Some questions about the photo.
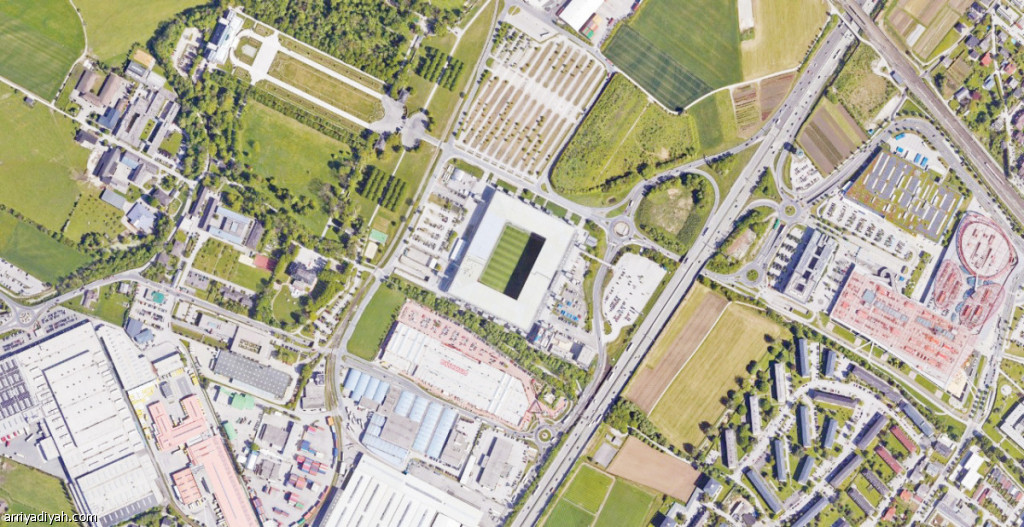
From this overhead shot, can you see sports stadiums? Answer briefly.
Yes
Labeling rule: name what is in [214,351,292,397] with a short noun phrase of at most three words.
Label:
building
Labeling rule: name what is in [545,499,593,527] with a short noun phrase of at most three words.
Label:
sports field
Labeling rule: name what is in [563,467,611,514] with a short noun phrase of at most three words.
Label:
sports field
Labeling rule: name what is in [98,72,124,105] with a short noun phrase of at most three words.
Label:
barn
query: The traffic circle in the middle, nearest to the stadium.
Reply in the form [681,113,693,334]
[607,215,635,243]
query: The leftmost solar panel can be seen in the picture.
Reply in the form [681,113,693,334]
[0,359,31,415]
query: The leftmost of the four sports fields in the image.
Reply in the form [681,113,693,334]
[479,223,545,300]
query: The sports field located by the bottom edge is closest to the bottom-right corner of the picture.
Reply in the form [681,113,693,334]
[597,480,656,527]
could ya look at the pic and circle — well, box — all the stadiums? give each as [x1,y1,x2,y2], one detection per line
[448,189,579,335]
